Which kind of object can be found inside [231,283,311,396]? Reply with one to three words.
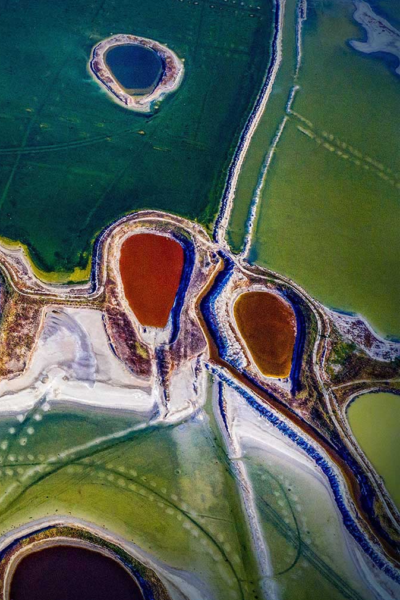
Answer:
pond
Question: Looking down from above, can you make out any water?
Yes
